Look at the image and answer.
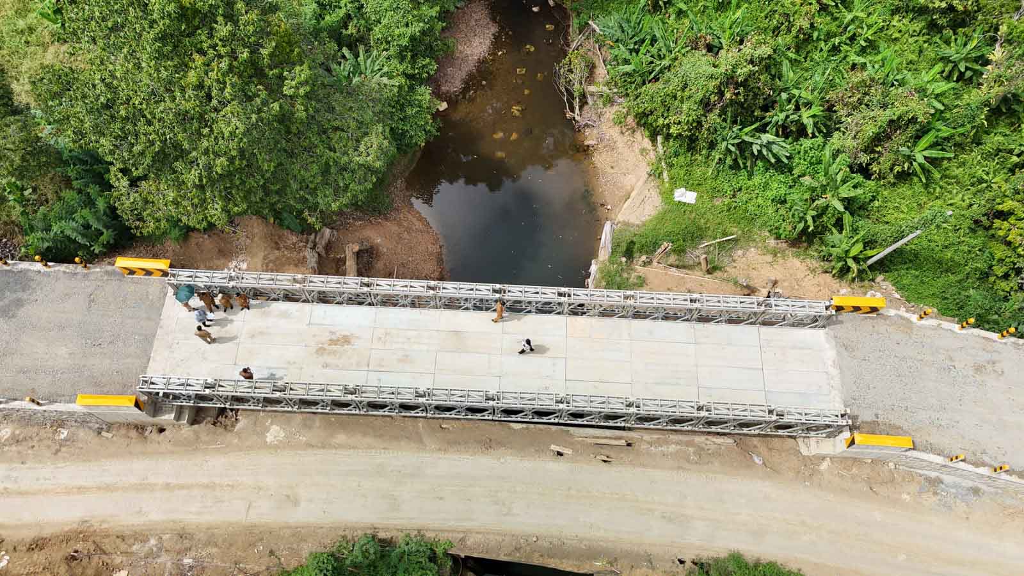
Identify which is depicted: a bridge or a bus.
bridge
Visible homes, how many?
zero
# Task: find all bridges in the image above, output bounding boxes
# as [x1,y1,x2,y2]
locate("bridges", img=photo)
[139,267,853,443]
